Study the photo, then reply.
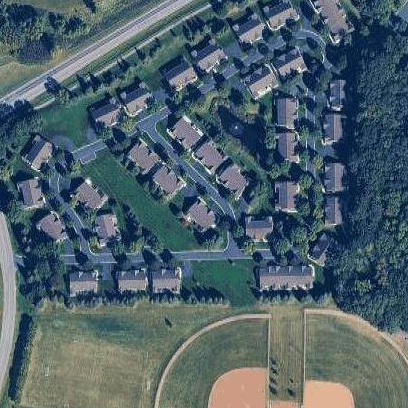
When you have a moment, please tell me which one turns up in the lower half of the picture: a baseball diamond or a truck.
baseball diamond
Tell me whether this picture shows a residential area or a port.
residential area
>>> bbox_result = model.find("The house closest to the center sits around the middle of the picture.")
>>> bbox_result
[186,197,218,228]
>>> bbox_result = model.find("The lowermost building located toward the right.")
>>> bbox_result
[260,266,315,291]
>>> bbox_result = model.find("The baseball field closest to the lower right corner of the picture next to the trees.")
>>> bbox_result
[304,308,408,408]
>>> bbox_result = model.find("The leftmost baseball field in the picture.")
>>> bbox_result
[153,313,270,408]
